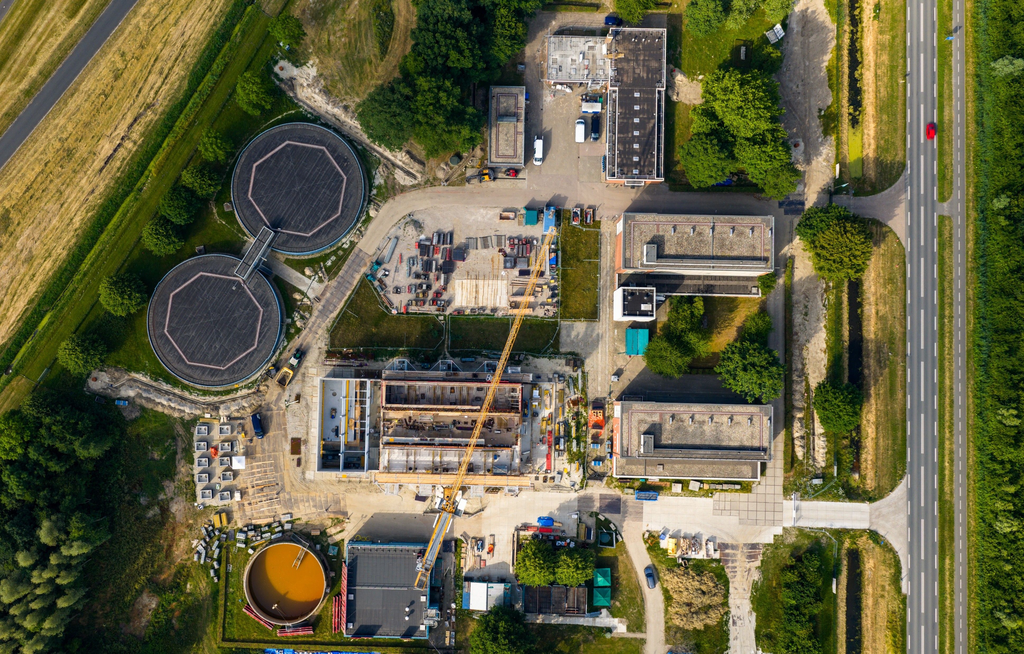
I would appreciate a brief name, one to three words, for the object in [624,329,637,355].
shed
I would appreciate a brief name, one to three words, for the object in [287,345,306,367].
work vehicle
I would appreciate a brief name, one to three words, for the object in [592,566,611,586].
tent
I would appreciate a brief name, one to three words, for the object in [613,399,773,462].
building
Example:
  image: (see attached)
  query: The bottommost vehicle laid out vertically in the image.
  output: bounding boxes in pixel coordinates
[643,566,655,589]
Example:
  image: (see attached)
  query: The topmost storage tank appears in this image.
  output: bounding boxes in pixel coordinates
[231,121,369,258]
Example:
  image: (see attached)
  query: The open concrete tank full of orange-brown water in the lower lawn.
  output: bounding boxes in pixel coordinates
[244,534,329,631]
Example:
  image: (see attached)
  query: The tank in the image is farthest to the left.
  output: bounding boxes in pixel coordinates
[147,252,286,389]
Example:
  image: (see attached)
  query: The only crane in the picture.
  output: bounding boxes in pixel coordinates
[417,228,558,591]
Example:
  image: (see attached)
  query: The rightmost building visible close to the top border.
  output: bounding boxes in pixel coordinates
[602,28,666,188]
